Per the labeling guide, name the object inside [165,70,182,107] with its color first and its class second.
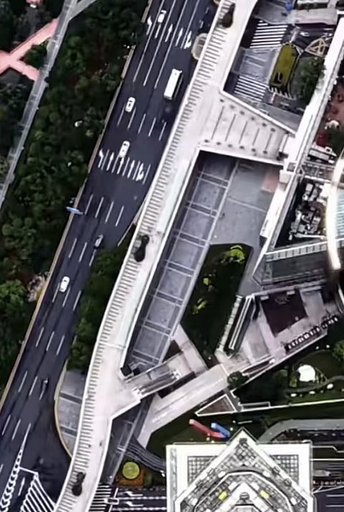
white vehicle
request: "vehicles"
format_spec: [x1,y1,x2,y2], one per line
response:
[156,9,166,27]
[59,276,70,293]
[39,376,50,392]
[125,97,135,115]
[196,15,206,33]
[120,142,129,160]
[94,233,104,250]
[165,70,182,107]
